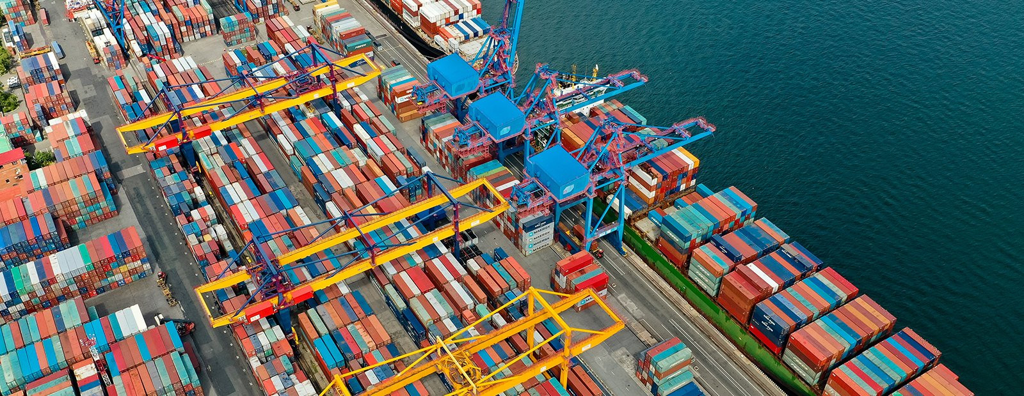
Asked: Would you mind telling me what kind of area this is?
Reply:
port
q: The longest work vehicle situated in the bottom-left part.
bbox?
[154,303,197,330]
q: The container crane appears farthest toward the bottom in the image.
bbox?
[310,283,630,396]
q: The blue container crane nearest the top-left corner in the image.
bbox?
[99,0,128,56]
